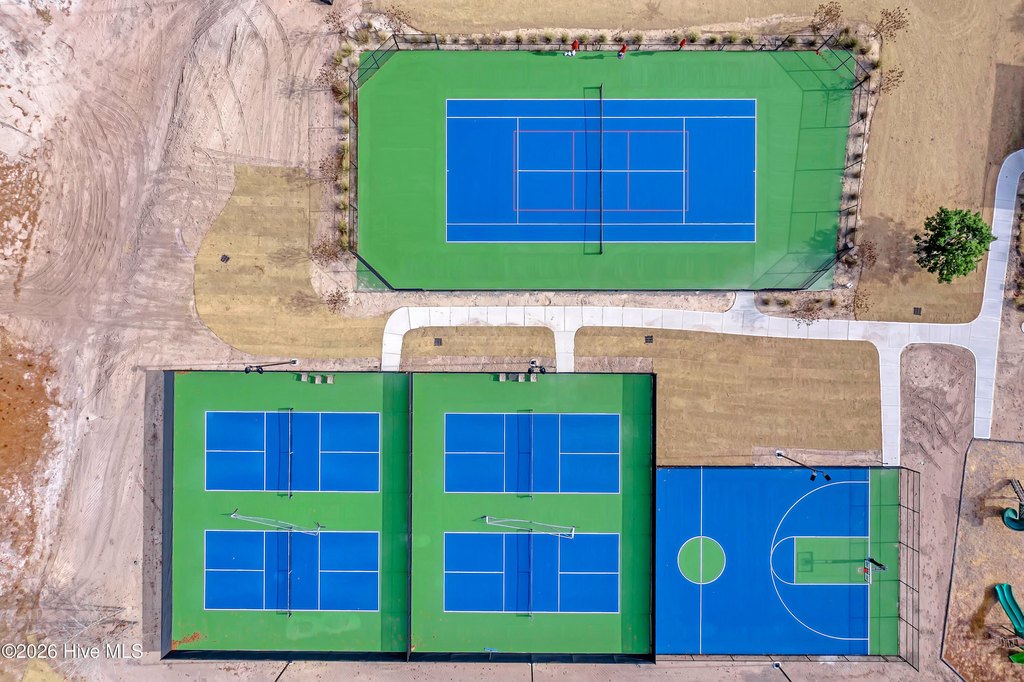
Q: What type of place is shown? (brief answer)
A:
sports ground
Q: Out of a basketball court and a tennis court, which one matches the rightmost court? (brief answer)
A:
basketball court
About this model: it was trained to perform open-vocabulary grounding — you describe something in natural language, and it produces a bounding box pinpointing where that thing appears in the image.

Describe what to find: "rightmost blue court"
[657,467,899,656]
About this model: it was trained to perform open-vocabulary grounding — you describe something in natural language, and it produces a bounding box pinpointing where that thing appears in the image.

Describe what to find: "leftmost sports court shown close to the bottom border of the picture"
[172,510,408,653]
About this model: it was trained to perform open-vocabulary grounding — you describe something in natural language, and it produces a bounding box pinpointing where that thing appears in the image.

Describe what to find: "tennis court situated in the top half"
[356,51,856,291]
